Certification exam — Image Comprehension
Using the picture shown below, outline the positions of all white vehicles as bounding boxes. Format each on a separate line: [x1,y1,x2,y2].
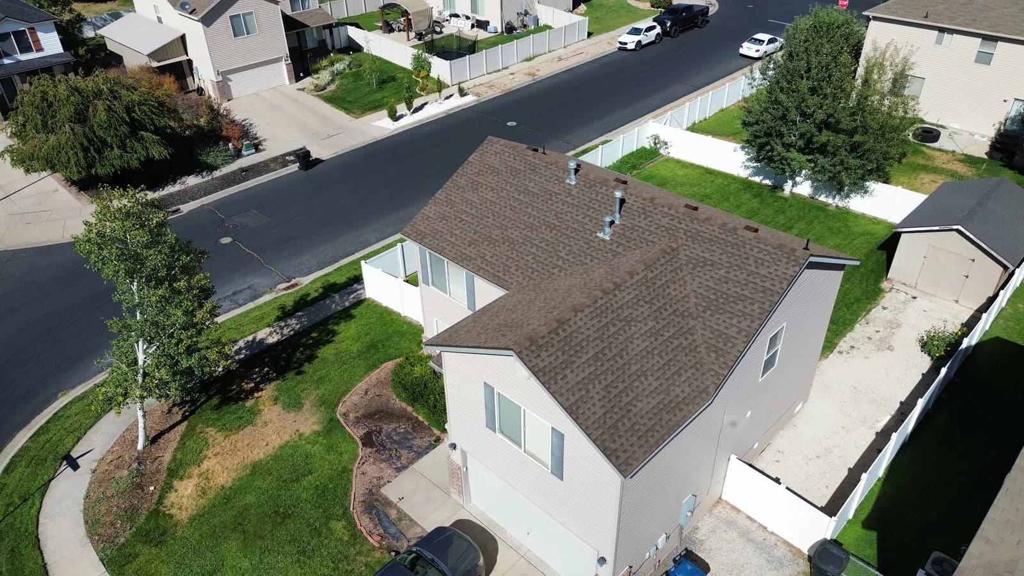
[615,21,665,52]
[736,32,780,57]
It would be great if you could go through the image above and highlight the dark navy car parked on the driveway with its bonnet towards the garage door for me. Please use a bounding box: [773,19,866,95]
[368,523,490,576]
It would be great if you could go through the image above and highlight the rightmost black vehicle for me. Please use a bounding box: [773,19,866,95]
[656,4,713,38]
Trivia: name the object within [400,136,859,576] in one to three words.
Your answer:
house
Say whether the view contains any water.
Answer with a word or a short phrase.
No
